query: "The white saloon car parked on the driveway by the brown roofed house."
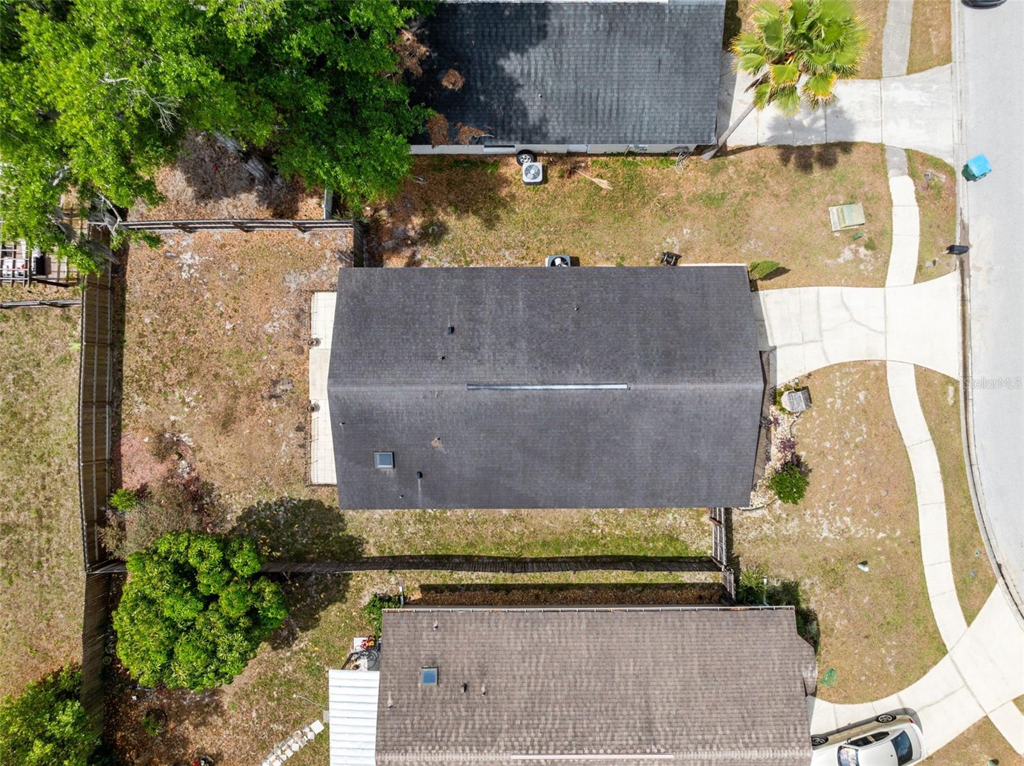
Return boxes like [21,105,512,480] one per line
[813,713,928,766]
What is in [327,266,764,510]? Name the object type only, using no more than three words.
house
